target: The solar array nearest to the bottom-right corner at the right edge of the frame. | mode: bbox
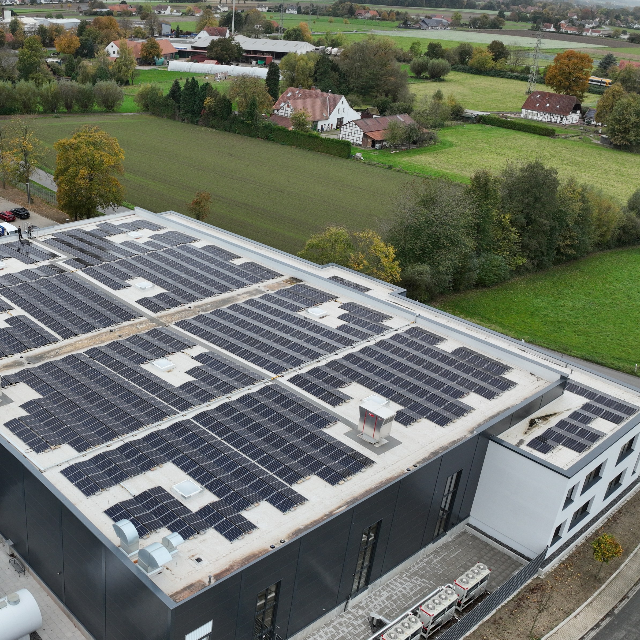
[525,378,640,457]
